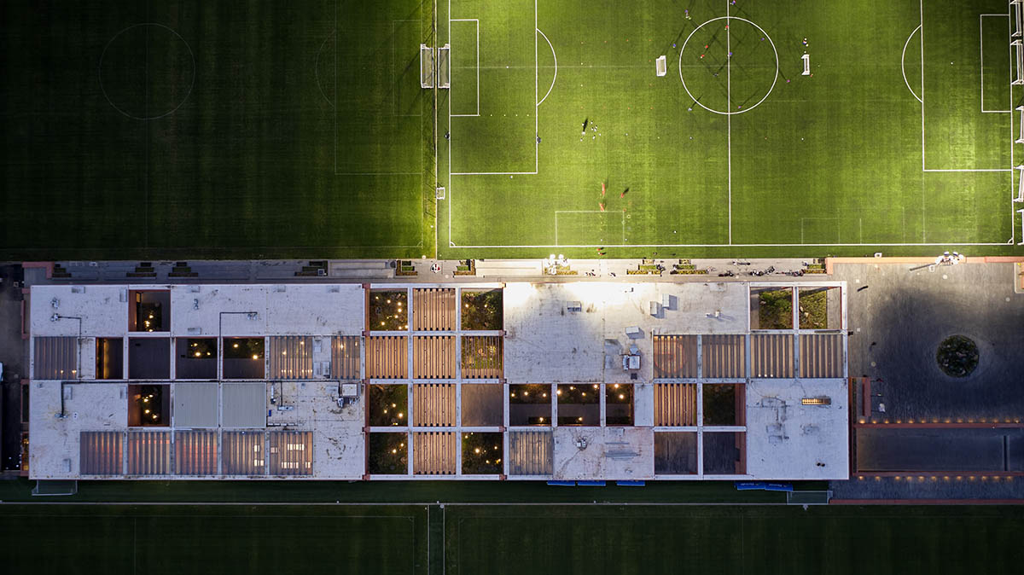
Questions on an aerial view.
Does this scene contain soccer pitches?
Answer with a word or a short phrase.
Yes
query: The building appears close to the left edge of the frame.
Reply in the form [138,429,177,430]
[30,285,366,480]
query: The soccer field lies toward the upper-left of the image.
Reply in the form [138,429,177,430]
[0,0,428,259]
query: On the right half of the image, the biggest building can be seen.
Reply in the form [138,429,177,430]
[505,282,848,479]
